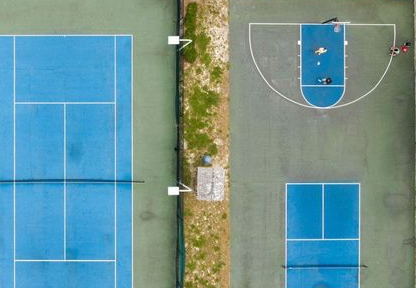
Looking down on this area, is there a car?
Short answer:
No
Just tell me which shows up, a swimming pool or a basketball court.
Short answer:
basketball court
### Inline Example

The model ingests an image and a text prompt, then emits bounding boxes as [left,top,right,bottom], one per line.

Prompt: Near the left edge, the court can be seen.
[0,34,133,288]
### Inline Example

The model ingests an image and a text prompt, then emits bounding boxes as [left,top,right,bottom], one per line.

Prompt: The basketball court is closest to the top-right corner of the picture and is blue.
[249,23,396,108]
